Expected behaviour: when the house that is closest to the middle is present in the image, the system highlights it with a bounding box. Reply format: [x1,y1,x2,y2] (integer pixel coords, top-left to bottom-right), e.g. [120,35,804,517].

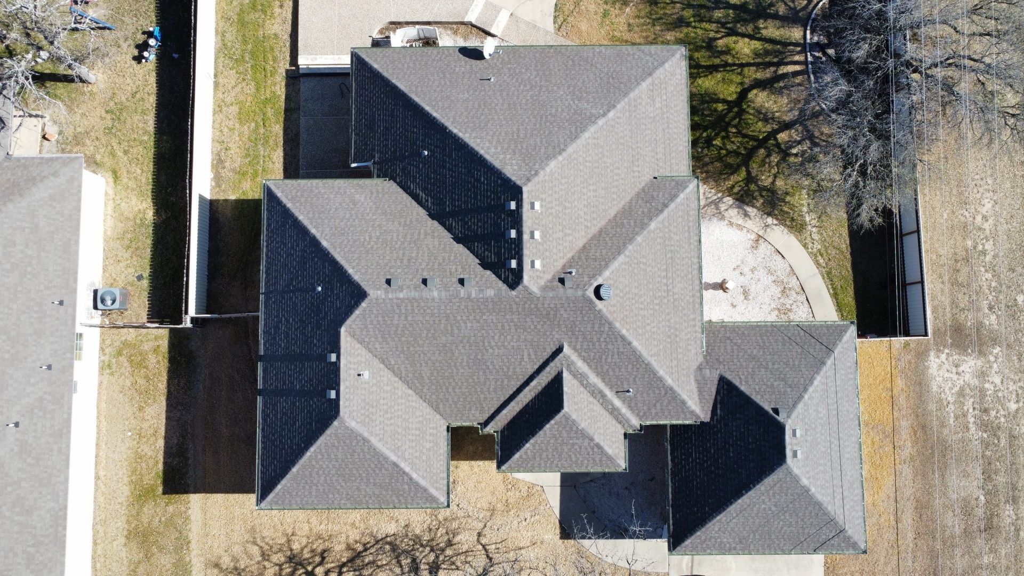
[253,42,869,558]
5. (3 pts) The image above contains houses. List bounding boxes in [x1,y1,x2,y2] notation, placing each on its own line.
[0,93,105,576]
[253,42,869,558]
